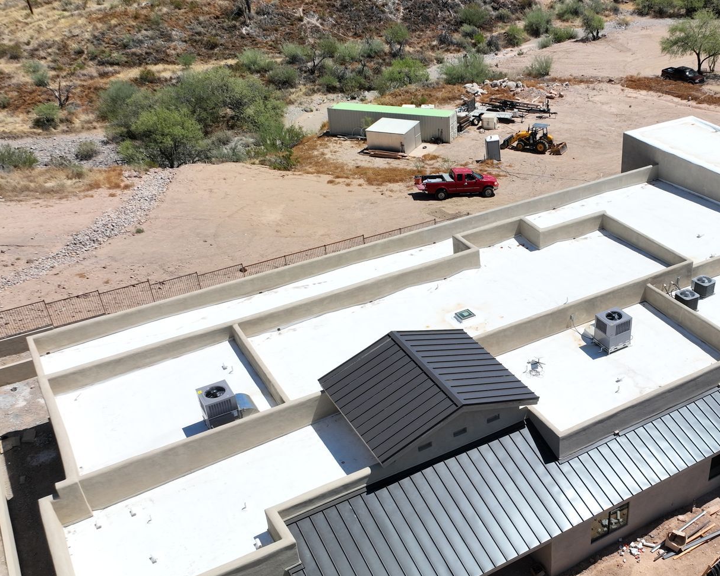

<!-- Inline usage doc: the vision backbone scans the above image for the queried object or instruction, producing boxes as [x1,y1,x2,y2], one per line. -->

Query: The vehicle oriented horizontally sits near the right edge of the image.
[659,64,716,86]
